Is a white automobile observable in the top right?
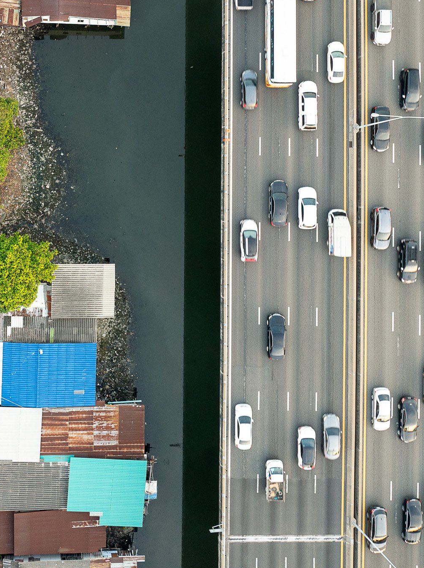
Yes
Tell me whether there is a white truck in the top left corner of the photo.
No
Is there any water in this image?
Yes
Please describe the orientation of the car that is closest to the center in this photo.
from top to bottom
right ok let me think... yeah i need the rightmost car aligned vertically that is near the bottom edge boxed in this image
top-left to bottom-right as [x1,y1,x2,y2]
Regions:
[401,497,424,544]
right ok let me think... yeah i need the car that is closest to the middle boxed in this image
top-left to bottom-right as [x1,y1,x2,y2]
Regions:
[240,221,260,259]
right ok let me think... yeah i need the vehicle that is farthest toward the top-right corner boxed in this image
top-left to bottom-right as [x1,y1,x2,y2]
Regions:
[371,0,394,45]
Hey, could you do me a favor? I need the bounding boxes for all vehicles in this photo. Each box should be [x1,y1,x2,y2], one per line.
[235,0,253,10]
[370,207,394,249]
[240,71,260,109]
[266,0,296,87]
[326,41,346,83]
[329,208,354,256]
[399,68,422,112]
[265,455,286,506]
[296,425,319,470]
[371,0,394,45]
[269,181,290,226]
[322,413,342,460]
[298,84,320,129]
[370,386,393,430]
[240,221,260,259]
[366,505,390,553]
[397,397,420,441]
[396,239,420,283]
[267,314,287,359]
[298,187,320,229]
[234,404,254,449]
[401,497,424,544]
